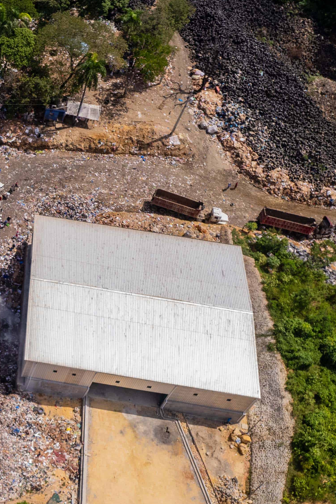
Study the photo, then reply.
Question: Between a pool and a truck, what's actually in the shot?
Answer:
truck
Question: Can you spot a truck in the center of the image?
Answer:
Yes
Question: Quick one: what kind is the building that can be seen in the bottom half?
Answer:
warehouse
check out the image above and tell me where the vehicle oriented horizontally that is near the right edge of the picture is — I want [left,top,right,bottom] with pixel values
[258,206,336,237]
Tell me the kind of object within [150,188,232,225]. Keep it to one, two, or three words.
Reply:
truck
